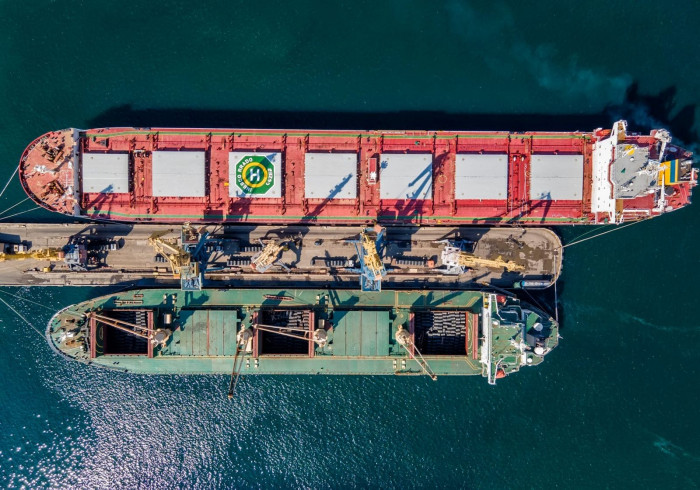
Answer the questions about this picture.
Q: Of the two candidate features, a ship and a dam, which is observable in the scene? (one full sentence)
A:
Looking from above, you can make out a ship.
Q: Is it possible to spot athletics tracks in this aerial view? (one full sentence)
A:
No, the frame has no athletics track in it.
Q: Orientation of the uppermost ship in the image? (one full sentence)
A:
What the image shows is the uppermost ship lying from left to right.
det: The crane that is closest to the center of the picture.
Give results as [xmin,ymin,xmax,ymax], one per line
[341,224,402,291]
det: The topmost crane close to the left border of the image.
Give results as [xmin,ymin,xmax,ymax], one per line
[0,239,112,272]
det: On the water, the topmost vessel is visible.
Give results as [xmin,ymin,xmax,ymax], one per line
[17,120,699,224]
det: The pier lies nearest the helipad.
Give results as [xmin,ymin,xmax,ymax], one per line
[0,220,565,292]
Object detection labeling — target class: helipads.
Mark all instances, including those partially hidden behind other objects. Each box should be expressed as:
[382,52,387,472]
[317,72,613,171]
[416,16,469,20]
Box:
[236,155,275,194]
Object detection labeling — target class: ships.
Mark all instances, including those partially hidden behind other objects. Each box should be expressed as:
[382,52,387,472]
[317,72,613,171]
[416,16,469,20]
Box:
[45,288,564,400]
[17,120,699,224]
